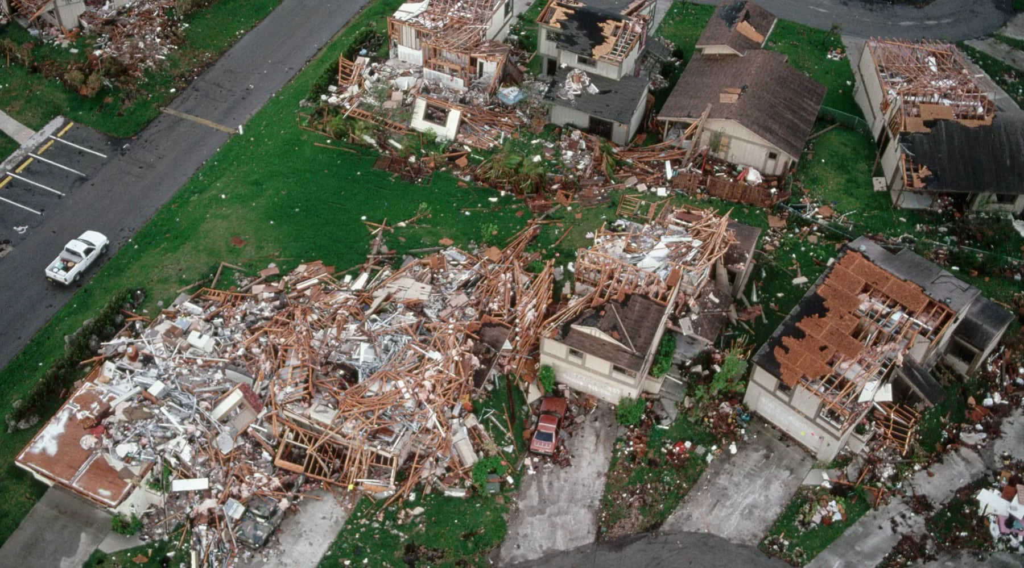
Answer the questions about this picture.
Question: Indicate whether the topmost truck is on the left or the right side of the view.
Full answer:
The topmost truck sits on the left side.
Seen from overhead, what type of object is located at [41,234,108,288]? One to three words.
truck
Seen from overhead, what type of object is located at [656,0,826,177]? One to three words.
house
